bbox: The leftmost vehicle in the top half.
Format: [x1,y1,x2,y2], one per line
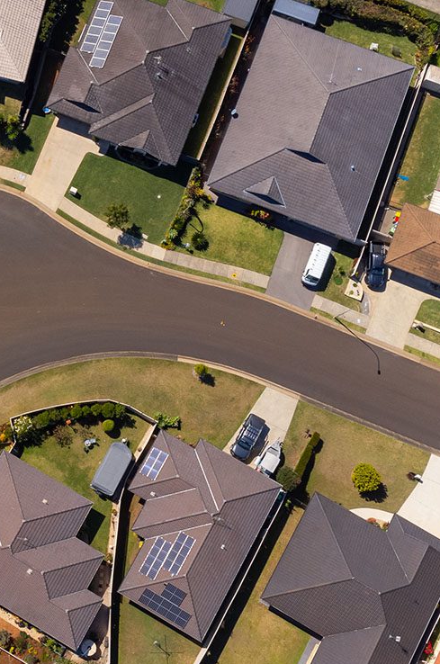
[302,244,329,285]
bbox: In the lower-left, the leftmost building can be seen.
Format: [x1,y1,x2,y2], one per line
[0,450,106,650]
